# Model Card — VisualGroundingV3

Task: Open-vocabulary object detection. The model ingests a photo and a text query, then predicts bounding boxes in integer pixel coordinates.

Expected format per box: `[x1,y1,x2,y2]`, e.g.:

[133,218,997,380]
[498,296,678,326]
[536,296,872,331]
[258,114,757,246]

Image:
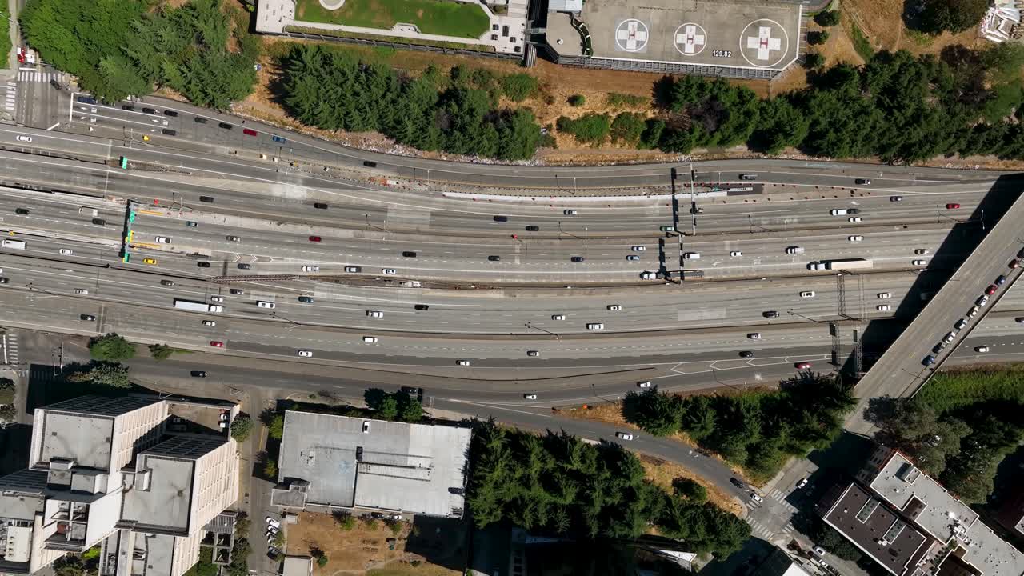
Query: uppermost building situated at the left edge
[30,393,165,472]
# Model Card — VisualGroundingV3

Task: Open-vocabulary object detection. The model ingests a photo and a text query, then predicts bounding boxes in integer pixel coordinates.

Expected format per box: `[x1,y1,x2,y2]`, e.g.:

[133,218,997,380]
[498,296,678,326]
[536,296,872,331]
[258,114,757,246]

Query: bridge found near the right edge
[848,195,1024,402]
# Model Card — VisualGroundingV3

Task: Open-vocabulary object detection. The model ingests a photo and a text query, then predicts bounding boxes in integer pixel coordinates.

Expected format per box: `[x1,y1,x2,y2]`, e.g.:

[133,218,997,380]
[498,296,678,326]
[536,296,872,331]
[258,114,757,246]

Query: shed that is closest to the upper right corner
[981,0,1020,42]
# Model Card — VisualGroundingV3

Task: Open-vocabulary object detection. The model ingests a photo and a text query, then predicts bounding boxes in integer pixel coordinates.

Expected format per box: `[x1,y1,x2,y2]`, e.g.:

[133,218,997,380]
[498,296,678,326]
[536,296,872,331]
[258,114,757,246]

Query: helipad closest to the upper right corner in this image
[740,19,788,67]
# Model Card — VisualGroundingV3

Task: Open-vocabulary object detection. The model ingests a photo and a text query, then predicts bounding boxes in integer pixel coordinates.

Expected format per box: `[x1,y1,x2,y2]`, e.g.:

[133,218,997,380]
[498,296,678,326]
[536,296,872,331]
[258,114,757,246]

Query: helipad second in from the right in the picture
[674,23,706,56]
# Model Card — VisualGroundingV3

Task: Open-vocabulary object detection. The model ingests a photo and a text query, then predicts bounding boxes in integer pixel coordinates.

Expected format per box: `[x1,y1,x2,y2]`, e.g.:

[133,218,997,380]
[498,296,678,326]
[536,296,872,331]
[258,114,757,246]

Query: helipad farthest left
[615,18,649,52]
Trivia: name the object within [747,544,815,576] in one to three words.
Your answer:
building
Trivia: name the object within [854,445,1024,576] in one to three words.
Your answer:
building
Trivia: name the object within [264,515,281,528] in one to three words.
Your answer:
vehicle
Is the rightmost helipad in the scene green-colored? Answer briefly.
No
